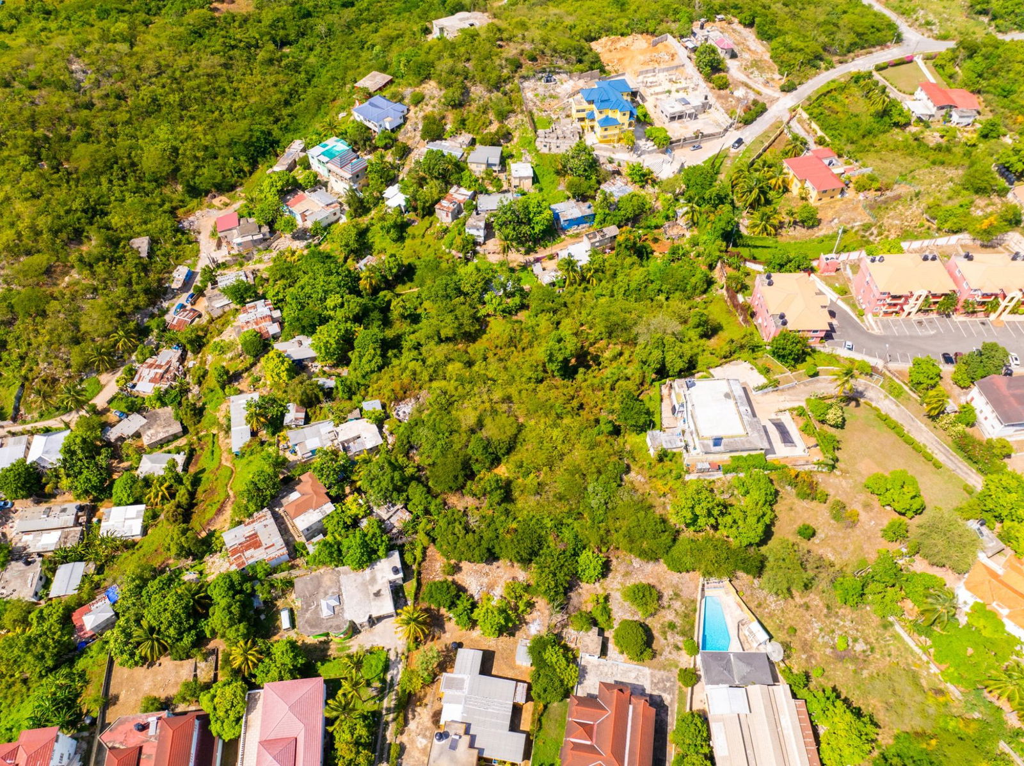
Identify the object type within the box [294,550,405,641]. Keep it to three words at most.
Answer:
house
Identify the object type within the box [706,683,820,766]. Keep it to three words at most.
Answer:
building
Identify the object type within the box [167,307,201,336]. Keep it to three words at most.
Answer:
shed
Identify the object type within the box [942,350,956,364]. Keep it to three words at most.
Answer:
car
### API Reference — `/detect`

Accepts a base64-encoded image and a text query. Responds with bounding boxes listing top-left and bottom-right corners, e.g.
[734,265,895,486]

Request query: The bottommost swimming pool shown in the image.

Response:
[700,578,768,652]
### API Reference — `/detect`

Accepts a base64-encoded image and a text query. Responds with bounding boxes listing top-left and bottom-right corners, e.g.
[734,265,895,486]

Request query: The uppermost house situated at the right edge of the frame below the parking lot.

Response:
[969,375,1024,448]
